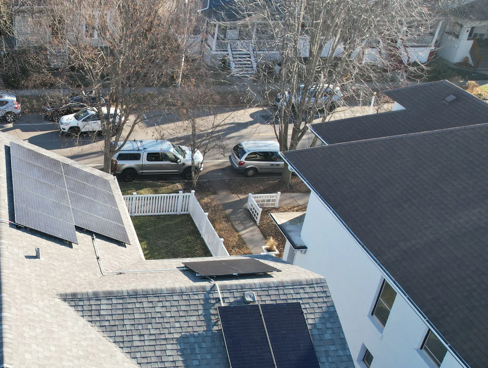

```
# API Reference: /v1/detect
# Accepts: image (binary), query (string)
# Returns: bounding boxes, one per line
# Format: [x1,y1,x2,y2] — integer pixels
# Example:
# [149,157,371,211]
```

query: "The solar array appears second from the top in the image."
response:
[182,258,282,278]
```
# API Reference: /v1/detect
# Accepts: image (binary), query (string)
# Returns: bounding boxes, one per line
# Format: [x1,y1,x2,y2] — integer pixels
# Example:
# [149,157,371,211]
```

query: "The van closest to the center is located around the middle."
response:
[225,136,286,175]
